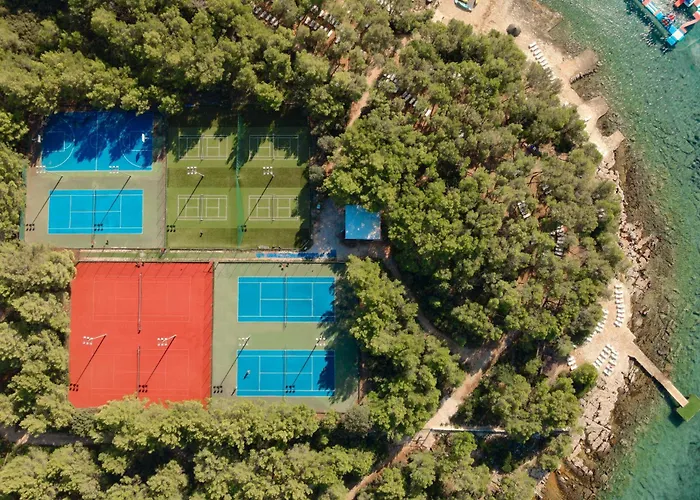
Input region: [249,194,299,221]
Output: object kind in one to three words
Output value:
sports court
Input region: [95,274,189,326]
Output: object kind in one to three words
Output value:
tennis court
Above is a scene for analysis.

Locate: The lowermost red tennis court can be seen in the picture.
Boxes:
[94,347,188,395]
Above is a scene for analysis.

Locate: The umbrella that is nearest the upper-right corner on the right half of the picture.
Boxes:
[507,18,523,34]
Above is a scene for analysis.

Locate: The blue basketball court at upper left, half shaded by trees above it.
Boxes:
[42,112,152,171]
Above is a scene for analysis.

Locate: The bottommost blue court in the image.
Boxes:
[239,349,334,400]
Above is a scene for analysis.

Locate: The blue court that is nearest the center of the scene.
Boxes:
[239,274,334,326]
